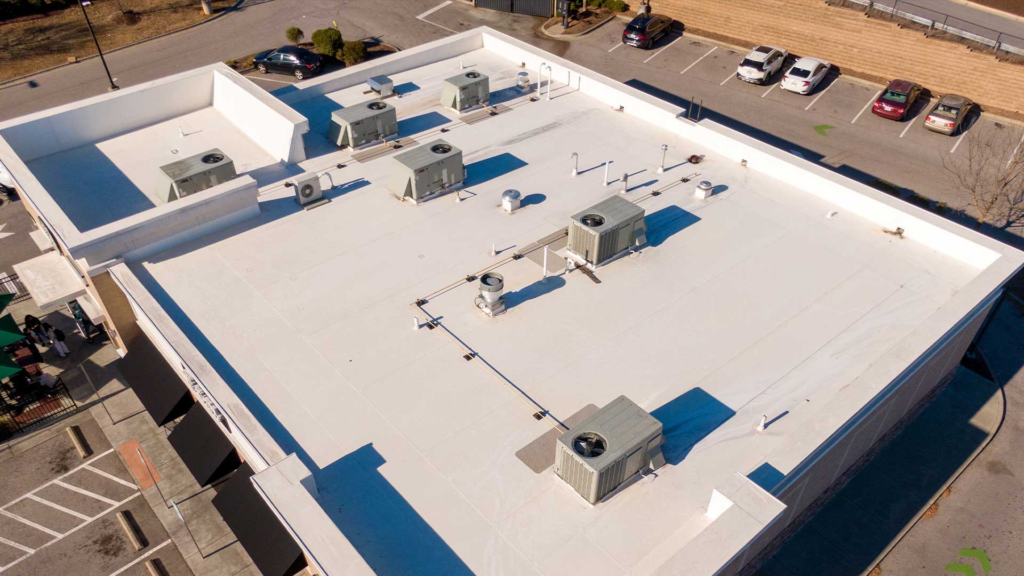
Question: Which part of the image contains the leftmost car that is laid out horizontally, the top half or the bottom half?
top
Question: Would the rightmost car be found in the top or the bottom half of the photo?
top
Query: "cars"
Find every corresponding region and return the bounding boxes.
[920,96,977,140]
[778,60,832,99]
[249,44,326,77]
[871,83,926,126]
[737,44,791,87]
[624,12,677,51]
